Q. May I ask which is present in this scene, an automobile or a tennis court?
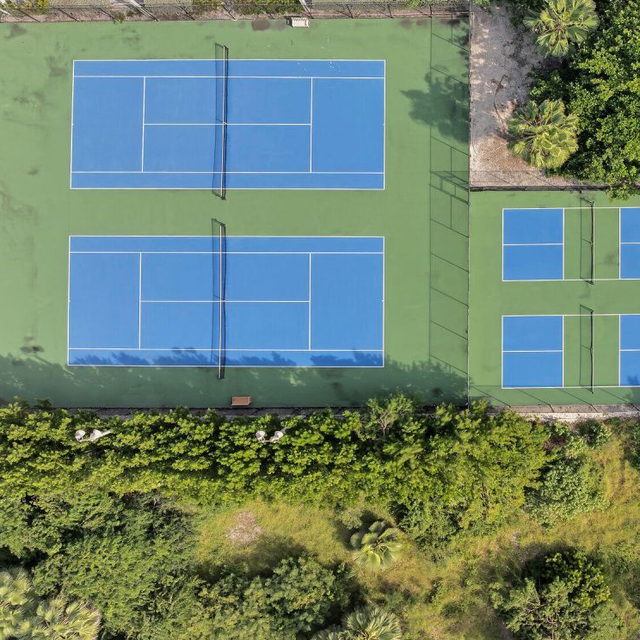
tennis court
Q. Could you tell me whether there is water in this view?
No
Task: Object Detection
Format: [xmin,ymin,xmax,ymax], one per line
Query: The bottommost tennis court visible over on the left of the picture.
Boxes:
[67,236,384,367]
